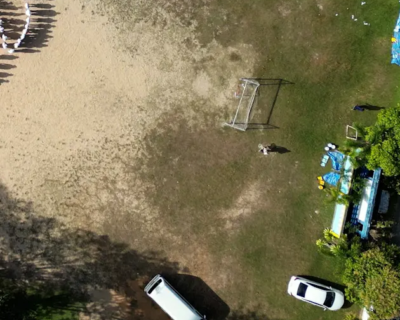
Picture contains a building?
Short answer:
No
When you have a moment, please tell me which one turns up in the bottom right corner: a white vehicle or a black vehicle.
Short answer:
white vehicle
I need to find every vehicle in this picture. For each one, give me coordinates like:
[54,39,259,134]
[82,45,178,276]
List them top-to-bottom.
[143,272,207,320]
[287,276,344,310]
